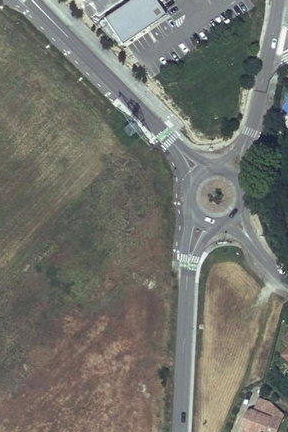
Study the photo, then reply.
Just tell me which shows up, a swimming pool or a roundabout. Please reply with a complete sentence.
Looking from above, you can make out a roundabout.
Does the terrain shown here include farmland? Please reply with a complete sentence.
Yes, there is farmland in the image.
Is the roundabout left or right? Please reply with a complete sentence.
The roundabout sits on the right side.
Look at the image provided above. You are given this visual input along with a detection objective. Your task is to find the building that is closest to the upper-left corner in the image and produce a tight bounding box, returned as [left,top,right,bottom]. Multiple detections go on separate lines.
[106,0,167,44]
